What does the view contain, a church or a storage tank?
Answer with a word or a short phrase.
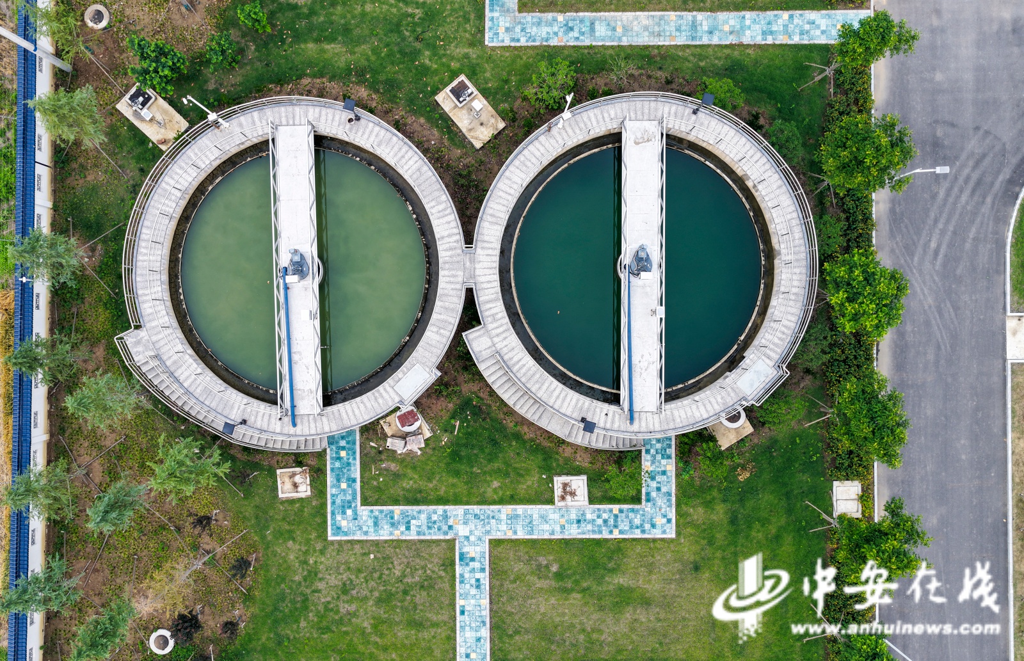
storage tank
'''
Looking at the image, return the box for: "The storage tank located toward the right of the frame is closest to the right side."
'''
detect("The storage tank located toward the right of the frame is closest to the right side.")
[462,95,815,451]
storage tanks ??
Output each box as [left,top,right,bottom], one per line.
[462,95,815,451]
[109,98,466,453]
